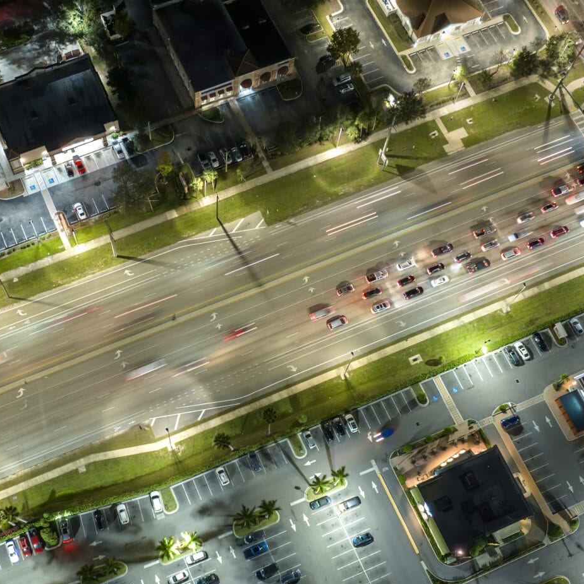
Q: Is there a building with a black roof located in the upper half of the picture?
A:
Yes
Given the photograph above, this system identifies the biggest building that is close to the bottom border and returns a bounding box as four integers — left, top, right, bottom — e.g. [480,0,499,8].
[409,444,534,558]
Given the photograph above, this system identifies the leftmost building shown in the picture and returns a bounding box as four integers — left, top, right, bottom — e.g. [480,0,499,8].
[0,53,120,179]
